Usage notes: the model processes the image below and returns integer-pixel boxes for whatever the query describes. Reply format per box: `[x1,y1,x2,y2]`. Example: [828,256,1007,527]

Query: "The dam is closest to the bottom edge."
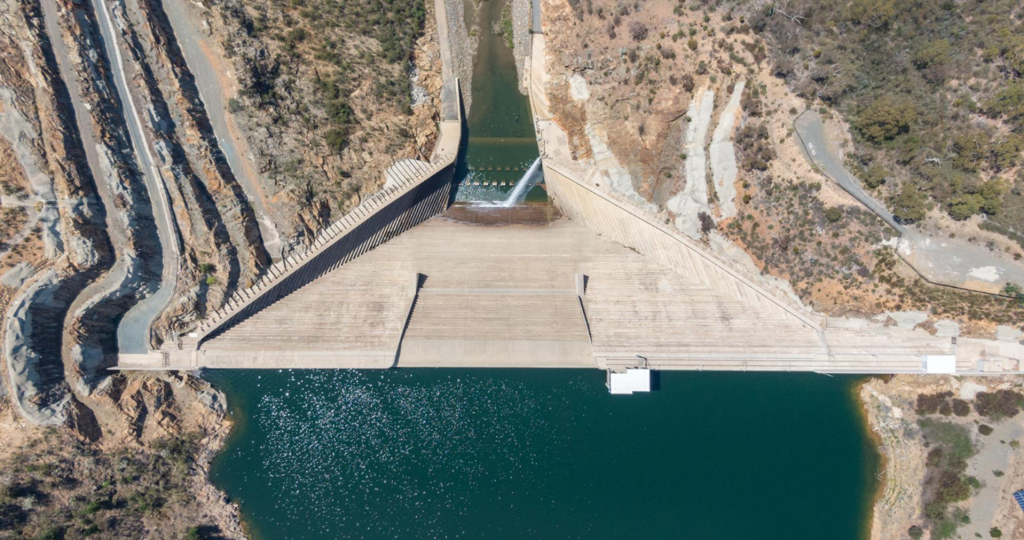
[114,155,1024,372]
